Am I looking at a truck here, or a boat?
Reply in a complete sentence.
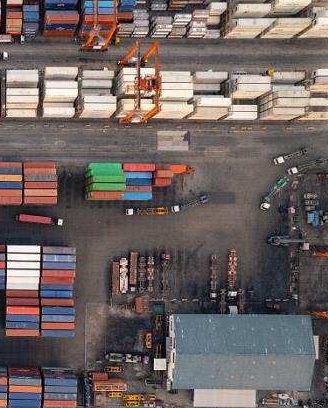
Of the two, only a truck appears.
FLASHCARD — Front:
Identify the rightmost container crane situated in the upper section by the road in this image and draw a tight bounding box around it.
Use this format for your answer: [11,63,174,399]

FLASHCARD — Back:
[120,42,162,124]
